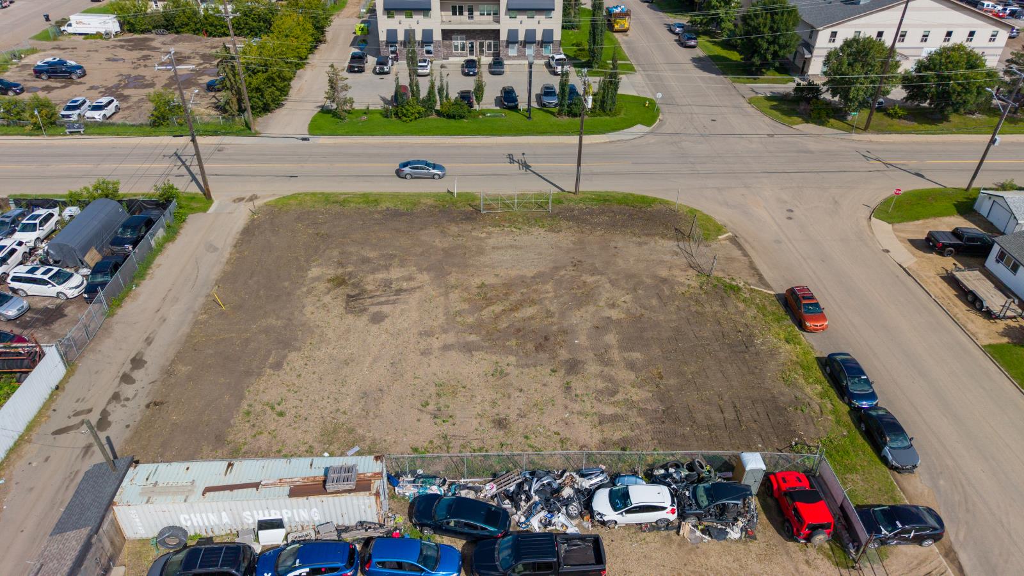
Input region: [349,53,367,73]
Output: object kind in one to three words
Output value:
vehicle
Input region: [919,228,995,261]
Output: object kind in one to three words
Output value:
truck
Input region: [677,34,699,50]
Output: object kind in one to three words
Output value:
car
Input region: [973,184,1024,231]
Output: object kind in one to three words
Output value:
building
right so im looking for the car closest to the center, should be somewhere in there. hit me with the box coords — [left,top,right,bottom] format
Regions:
[396,160,445,180]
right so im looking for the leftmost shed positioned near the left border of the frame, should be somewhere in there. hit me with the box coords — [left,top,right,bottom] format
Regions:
[27,456,137,576]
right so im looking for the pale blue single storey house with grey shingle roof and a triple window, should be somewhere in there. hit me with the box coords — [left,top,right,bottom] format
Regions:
[986,225,1024,300]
